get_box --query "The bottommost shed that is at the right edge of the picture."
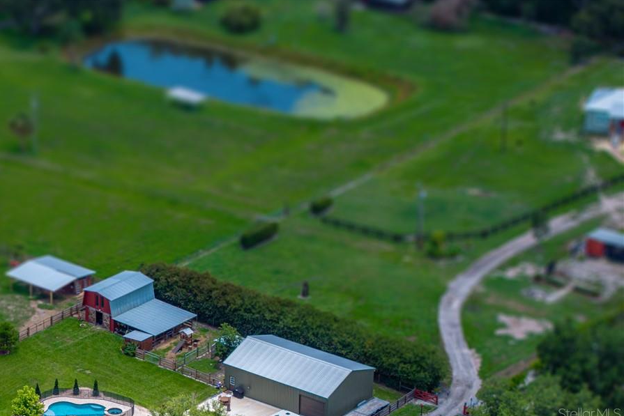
[587,228,624,259]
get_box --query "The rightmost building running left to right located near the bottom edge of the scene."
[223,334,376,416]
